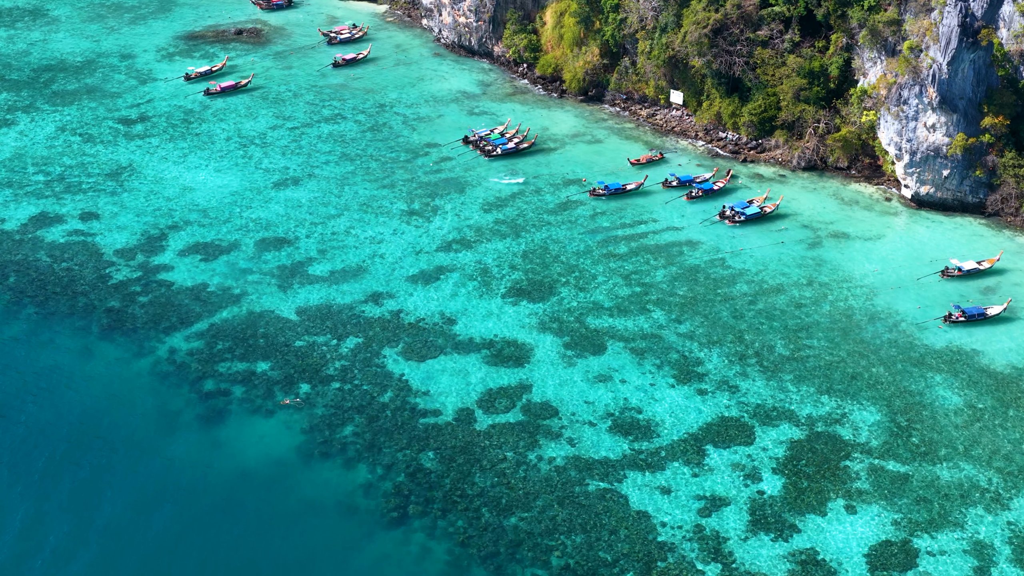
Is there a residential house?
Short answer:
No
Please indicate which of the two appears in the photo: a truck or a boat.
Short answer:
boat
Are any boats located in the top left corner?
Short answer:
Yes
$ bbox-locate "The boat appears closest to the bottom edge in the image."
[914,299,1011,327]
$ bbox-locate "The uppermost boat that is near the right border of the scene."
[913,250,1003,283]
